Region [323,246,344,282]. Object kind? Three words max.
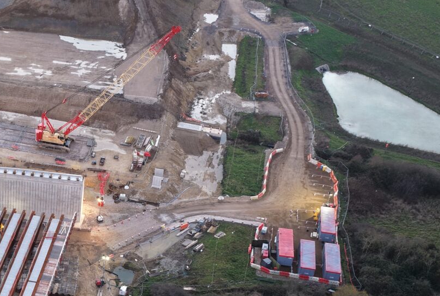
building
